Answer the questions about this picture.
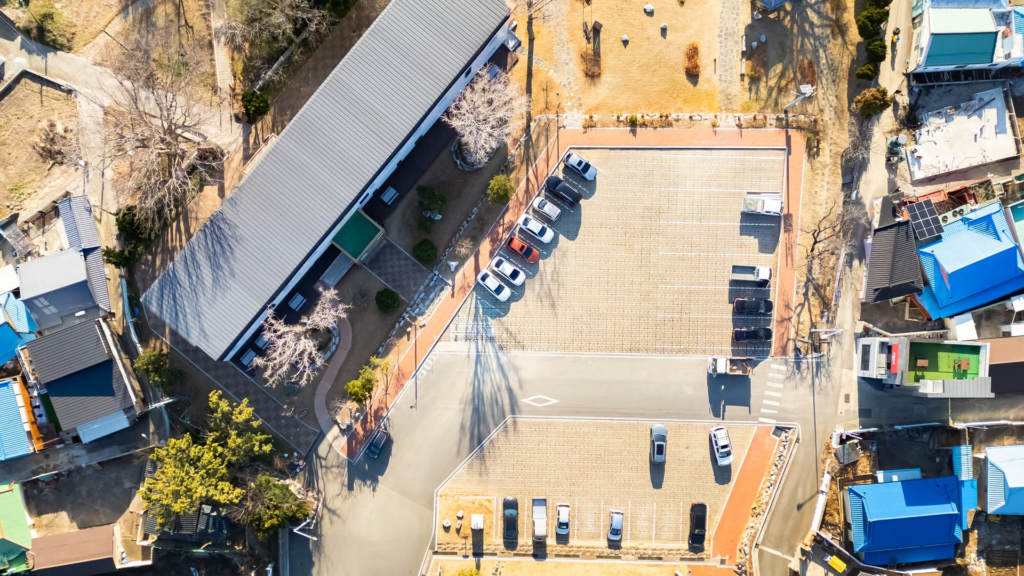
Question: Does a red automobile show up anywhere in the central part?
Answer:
Yes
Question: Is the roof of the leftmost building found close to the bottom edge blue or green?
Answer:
green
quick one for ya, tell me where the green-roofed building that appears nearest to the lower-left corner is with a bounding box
[0,481,47,574]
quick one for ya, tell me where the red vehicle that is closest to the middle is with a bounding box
[503,233,542,265]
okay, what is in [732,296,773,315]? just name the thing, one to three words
car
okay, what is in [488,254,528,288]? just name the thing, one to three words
car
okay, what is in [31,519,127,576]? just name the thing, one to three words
house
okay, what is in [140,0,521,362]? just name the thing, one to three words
building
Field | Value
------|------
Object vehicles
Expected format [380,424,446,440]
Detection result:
[501,497,520,540]
[530,194,565,224]
[794,343,805,357]
[503,233,542,265]
[732,296,773,315]
[488,254,528,288]
[561,149,600,183]
[530,496,549,541]
[710,425,733,467]
[607,509,624,541]
[517,212,556,246]
[689,502,708,546]
[707,357,756,377]
[650,424,669,464]
[739,194,785,213]
[731,326,773,345]
[474,268,513,303]
[729,264,774,284]
[555,503,572,534]
[544,173,584,209]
